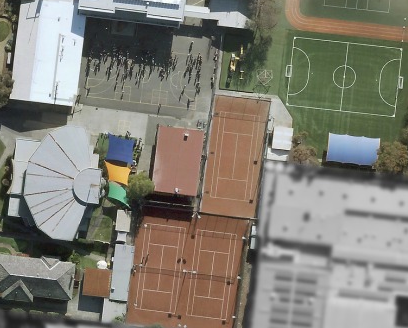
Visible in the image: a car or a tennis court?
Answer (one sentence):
The one in the frame is a tennis court.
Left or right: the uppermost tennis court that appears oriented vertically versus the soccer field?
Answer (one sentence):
Relative to the soccer field, the uppermost tennis court that appears oriented vertically is on the left.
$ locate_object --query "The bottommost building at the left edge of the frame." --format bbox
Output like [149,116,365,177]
[0,252,75,306]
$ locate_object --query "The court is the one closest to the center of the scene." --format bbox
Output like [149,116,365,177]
[202,96,270,216]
